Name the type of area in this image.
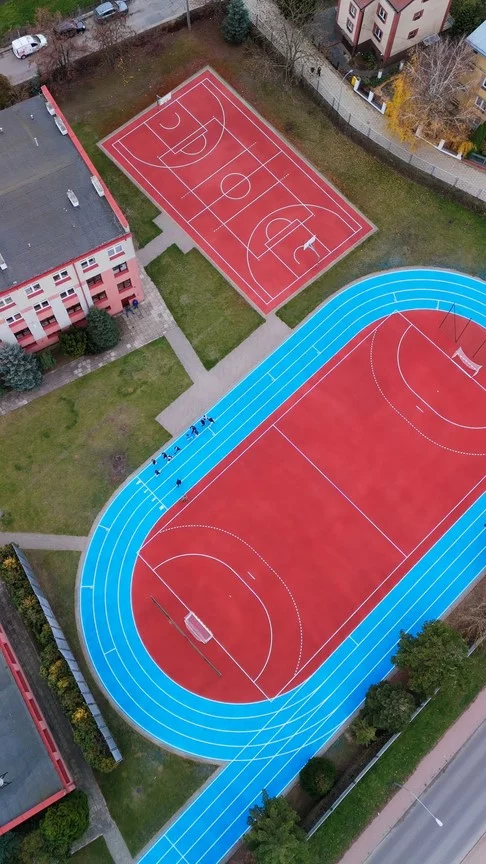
sports ground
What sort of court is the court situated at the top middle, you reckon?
basketball court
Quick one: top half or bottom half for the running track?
bottom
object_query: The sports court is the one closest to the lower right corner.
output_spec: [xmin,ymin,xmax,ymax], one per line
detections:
[130,310,486,705]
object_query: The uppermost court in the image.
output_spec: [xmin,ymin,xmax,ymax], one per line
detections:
[97,67,379,320]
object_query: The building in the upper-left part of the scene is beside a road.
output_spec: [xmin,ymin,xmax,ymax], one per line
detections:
[0,82,144,359]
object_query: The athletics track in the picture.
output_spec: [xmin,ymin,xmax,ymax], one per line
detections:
[73,264,486,864]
